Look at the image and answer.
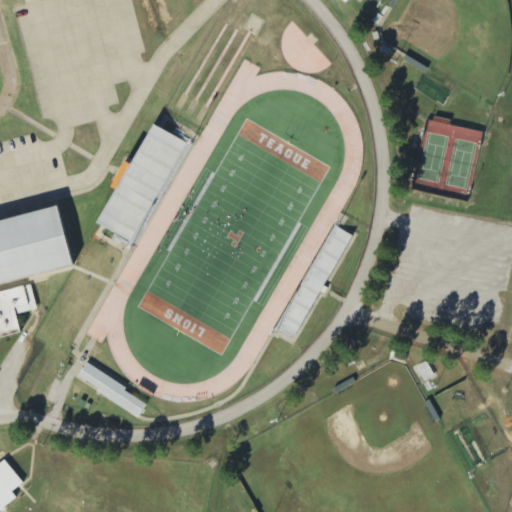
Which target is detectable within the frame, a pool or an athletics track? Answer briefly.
athletics track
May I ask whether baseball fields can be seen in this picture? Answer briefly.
Yes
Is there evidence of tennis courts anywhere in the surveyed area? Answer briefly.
Yes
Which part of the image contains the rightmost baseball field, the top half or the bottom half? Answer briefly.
top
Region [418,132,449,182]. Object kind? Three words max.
tennis court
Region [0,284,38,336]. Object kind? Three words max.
building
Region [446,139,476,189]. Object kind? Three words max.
tennis court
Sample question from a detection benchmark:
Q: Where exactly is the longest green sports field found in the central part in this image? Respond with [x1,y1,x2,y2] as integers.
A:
[124,90,345,384]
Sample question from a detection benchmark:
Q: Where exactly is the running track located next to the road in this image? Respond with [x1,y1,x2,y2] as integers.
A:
[86,59,363,402]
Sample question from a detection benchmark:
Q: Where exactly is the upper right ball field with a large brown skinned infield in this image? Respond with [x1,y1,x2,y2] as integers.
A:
[392,0,458,58]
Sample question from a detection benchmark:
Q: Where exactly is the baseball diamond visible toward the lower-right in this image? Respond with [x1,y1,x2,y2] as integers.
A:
[328,376,430,472]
